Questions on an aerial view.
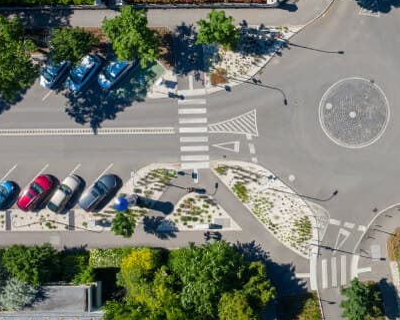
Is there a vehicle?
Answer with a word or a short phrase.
Yes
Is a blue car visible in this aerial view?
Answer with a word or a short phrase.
Yes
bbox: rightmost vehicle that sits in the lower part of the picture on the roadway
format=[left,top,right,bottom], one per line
[78,173,120,215]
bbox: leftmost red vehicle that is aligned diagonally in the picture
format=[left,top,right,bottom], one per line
[19,173,58,213]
